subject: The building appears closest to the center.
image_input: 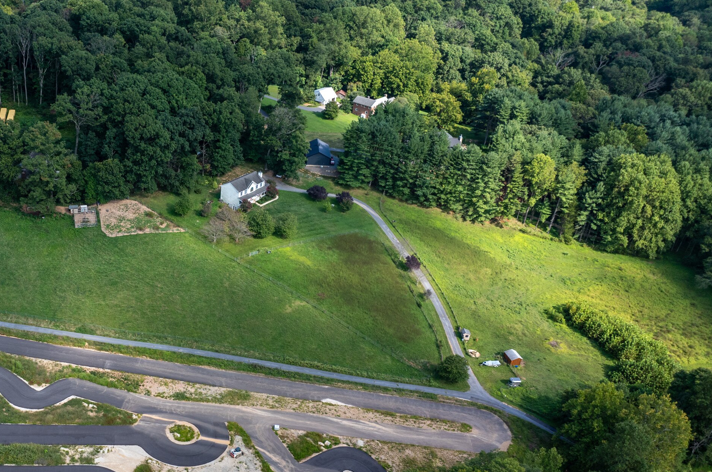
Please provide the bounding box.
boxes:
[304,136,331,167]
